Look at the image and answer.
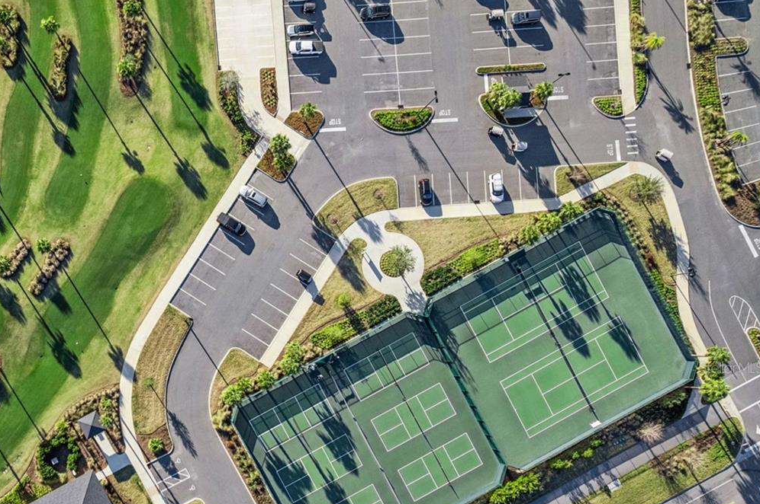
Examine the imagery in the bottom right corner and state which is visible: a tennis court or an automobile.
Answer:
tennis court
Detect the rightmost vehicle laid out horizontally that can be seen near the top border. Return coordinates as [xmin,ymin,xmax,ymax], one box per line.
[509,10,542,25]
